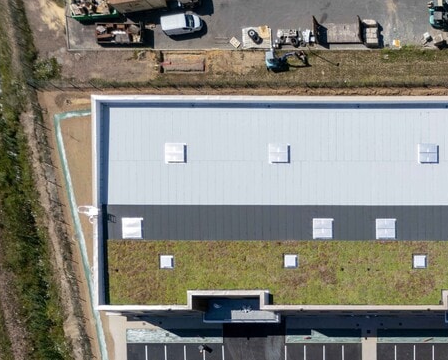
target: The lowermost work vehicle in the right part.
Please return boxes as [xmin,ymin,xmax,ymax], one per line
[265,47,302,71]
